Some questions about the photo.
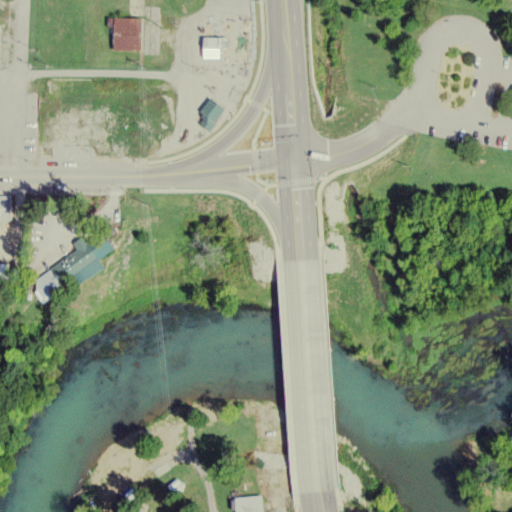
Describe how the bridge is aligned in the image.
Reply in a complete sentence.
In this picture, the bridge lies from top to bottom.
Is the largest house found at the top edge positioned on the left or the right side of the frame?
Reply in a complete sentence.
The largest house found at the top edge is on the left side of the image.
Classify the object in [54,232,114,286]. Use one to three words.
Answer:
building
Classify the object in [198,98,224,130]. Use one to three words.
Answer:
house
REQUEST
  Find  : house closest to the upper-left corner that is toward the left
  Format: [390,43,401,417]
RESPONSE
[108,18,141,51]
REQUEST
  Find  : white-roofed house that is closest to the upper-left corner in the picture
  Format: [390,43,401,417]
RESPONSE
[202,36,221,60]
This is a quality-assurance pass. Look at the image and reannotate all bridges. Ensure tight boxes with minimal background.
[276,260,342,493]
